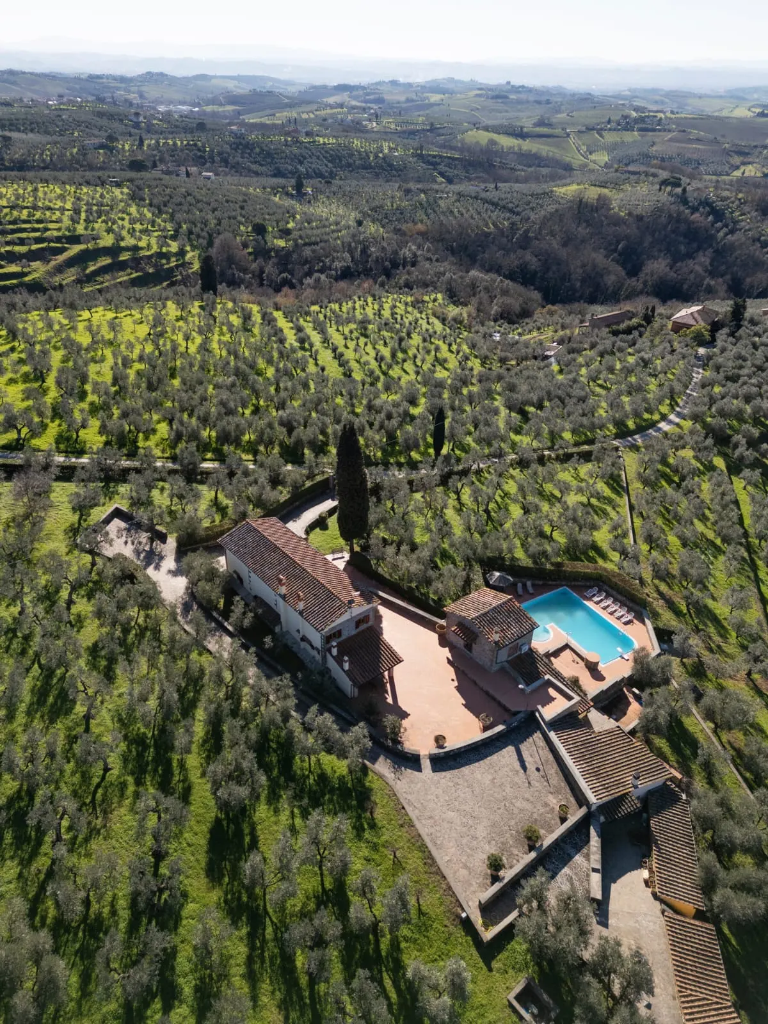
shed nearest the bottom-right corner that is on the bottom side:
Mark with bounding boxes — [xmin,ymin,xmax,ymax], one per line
[661,912,738,1024]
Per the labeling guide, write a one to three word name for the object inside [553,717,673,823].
barn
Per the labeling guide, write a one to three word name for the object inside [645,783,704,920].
shed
